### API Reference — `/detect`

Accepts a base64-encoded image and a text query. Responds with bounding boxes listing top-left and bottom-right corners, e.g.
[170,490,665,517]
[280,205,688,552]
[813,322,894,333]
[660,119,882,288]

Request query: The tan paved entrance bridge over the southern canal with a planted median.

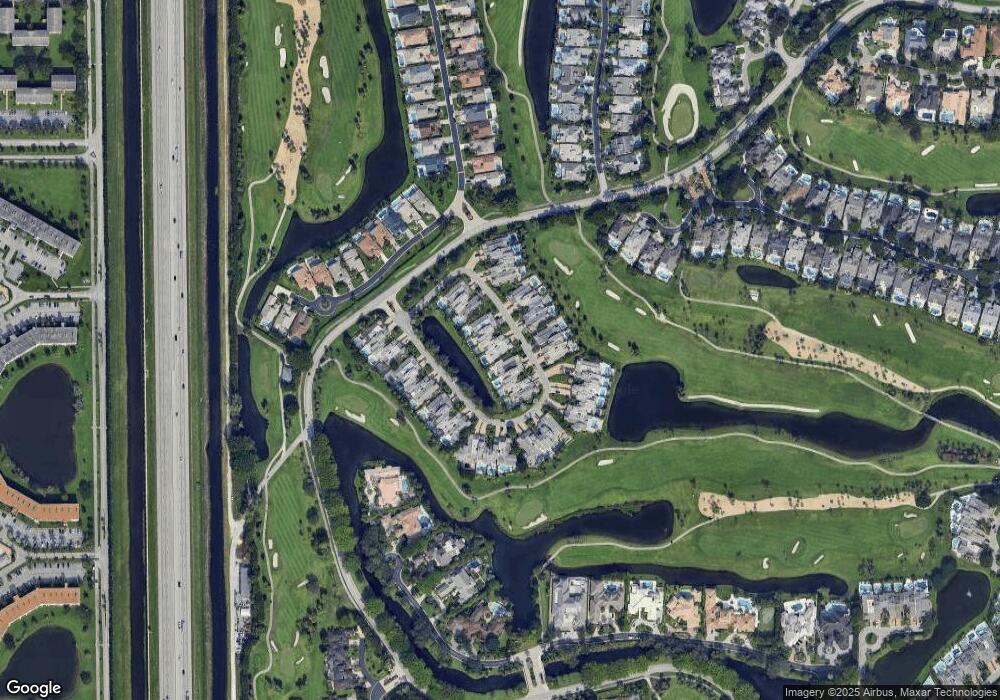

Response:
[512,644,551,695]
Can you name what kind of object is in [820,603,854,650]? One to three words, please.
house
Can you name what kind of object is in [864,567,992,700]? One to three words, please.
pond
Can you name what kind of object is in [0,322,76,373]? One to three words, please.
building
